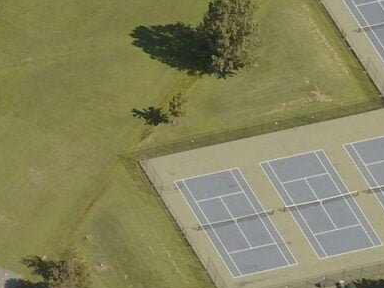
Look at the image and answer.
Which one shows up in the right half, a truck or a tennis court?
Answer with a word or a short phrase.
tennis court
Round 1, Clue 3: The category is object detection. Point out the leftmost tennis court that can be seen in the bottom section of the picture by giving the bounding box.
[175,167,298,277]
